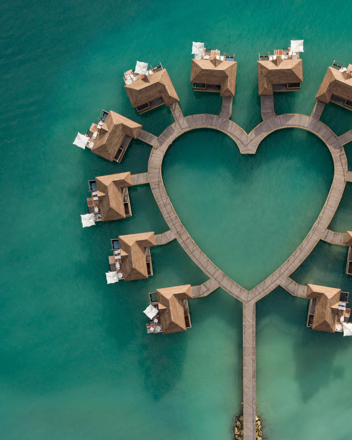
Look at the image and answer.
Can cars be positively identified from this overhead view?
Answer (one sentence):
No, the photo shows no car.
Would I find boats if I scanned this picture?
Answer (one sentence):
No, the scene contains no boat.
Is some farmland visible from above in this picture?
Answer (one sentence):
No, no farmland is visible.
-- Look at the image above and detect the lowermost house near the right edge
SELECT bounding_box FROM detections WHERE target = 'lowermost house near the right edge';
[304,282,351,333]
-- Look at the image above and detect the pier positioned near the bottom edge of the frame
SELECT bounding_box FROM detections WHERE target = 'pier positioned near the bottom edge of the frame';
[242,302,256,440]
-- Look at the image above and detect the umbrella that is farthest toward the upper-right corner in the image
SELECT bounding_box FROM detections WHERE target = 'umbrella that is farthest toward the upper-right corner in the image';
[291,40,303,52]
